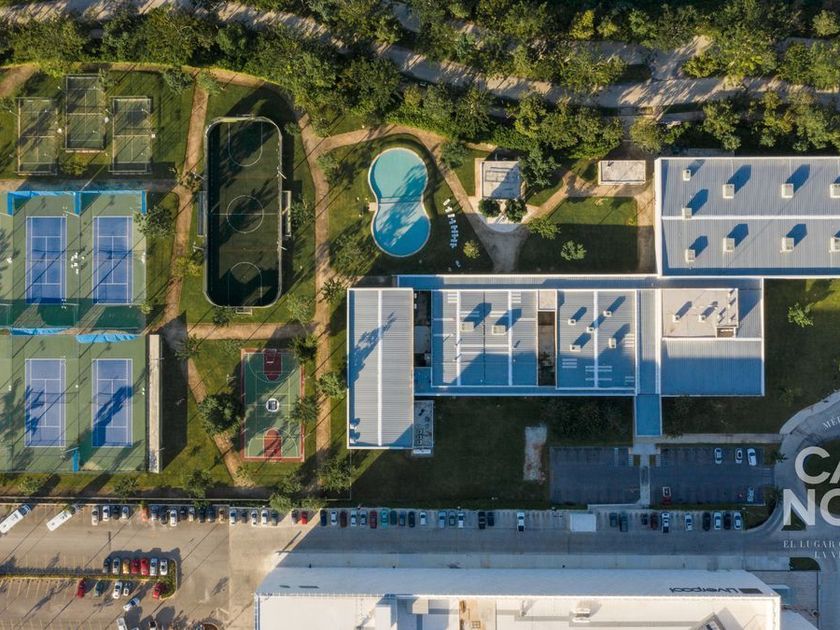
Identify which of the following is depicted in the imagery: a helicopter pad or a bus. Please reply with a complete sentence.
The image shows a bus.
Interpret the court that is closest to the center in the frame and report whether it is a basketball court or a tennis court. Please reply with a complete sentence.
In the photo, the court that is closest to the center shows up as a basketball court.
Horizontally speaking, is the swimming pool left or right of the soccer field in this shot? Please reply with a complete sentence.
Looking at the photo, the swimming pool lies to the right of the soccer field.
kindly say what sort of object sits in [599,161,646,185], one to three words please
building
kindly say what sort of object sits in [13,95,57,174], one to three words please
sports court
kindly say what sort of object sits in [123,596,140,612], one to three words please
car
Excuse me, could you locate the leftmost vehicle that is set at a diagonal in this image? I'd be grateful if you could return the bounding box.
[0,500,38,535]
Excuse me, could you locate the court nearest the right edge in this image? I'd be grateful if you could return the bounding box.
[241,349,304,462]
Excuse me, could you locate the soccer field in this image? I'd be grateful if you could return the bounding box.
[203,114,281,306]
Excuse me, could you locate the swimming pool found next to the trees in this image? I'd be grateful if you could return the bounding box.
[367,147,432,258]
